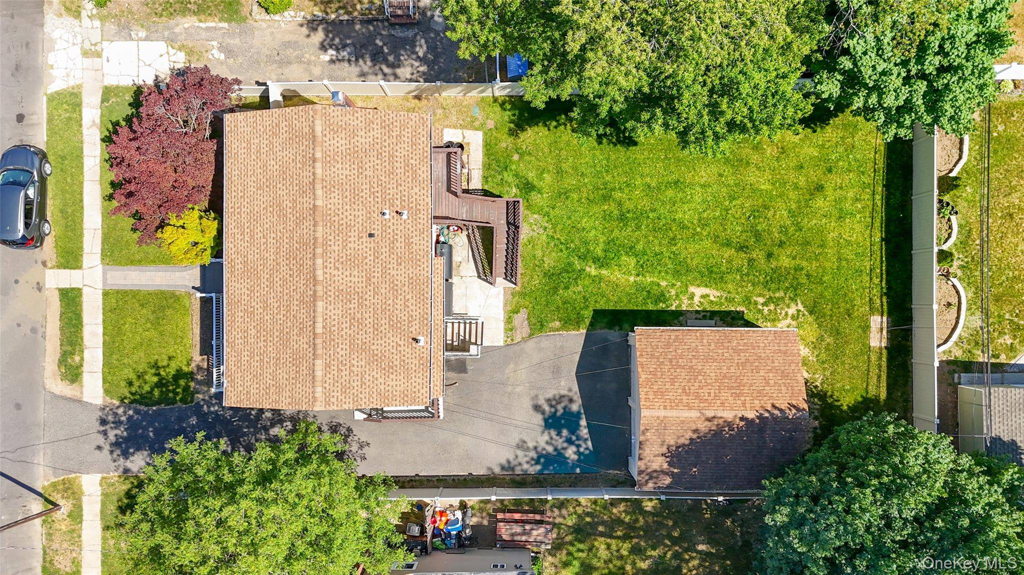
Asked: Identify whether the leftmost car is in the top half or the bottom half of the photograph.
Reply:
top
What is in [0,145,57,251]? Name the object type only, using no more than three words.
car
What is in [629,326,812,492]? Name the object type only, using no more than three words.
building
